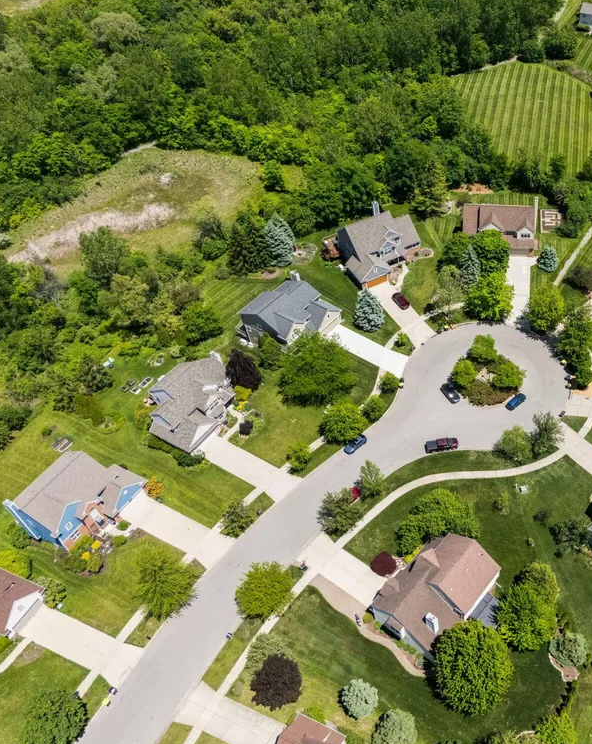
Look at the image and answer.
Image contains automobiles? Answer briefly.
Yes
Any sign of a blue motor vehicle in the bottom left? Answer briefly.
No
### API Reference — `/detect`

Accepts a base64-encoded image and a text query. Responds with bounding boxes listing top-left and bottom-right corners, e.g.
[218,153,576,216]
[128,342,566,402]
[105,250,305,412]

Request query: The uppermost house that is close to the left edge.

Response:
[0,452,146,547]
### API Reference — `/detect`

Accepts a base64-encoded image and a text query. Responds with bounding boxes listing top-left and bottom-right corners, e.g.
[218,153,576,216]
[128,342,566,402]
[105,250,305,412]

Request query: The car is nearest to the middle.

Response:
[342,432,369,455]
